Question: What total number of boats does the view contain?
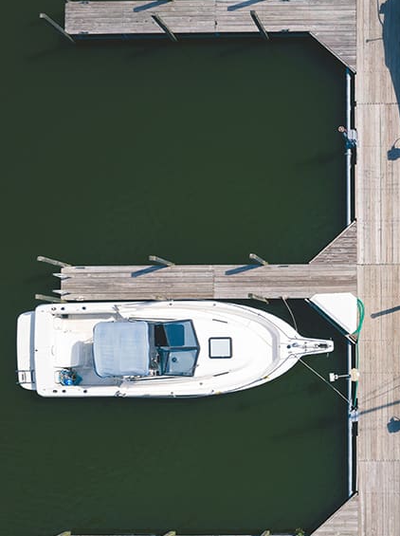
1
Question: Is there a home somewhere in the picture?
No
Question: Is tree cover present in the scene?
No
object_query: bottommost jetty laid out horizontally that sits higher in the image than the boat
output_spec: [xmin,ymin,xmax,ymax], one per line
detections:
[60,221,357,302]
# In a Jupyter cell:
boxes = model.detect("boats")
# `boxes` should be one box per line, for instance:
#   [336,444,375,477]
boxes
[16,300,334,399]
